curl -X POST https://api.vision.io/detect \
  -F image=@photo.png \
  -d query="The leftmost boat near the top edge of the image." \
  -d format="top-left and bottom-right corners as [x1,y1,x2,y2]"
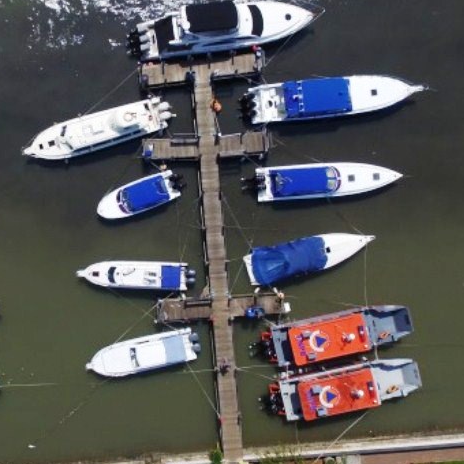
[132,2,323,61]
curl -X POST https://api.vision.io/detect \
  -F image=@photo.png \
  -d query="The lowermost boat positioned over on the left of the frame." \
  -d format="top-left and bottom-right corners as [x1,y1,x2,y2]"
[81,327,204,375]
